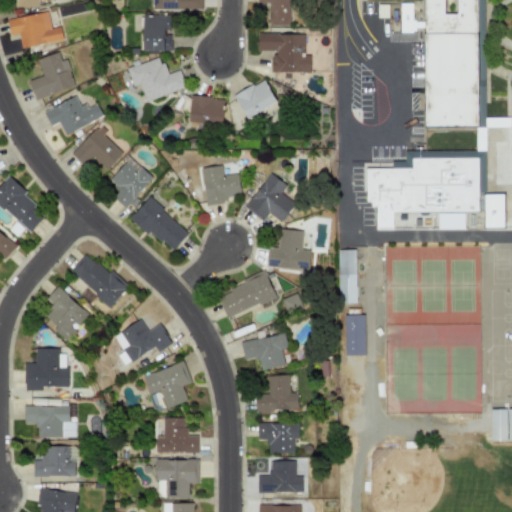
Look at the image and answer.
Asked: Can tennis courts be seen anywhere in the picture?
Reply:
Yes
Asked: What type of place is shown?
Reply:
residential area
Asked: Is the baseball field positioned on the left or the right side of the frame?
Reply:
right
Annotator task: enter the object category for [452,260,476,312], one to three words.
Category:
tennis court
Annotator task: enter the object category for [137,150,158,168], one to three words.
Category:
swimming pool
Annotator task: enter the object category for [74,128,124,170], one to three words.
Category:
house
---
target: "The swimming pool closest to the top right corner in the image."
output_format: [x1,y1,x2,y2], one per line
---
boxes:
[308,76,328,95]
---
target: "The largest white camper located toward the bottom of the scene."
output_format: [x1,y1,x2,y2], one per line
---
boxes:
[232,324,257,339]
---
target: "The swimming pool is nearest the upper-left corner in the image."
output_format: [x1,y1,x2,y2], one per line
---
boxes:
[112,26,124,50]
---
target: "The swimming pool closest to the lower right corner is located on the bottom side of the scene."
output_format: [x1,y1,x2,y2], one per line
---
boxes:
[296,324,311,344]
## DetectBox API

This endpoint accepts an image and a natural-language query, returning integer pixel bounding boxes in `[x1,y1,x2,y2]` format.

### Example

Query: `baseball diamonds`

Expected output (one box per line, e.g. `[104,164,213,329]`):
[370,440,512,512]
